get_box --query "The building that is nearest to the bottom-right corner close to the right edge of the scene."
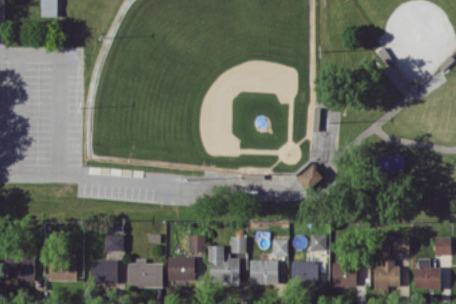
[415,268,441,291]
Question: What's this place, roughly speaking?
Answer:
sports ground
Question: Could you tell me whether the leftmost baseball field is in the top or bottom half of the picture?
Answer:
top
